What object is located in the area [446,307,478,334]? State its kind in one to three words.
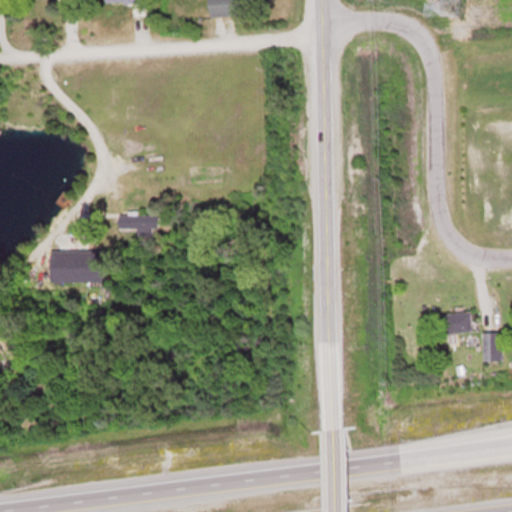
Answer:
house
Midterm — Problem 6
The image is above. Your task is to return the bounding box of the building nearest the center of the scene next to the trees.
[118,210,158,237]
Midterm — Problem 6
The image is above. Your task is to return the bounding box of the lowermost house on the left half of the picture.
[50,250,104,284]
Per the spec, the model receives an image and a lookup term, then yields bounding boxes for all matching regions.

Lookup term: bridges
[311,426,356,512]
